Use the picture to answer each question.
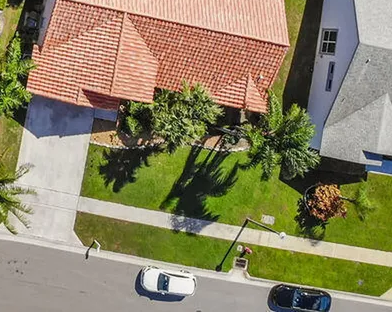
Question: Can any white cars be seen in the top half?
No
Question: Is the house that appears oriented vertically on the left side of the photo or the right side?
right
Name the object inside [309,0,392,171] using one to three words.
house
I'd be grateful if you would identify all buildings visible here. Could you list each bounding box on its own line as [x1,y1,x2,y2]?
[25,0,290,113]
[309,0,392,171]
